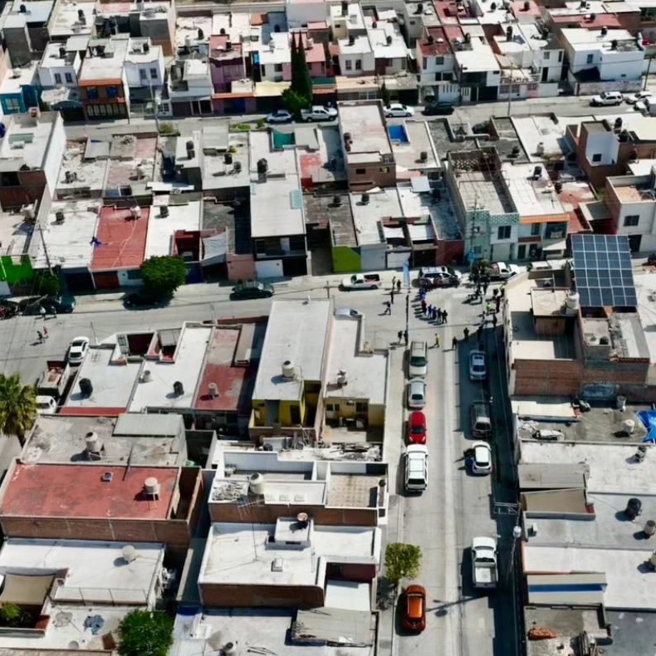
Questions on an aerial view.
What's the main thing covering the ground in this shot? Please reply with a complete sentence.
Most of the picture is covered by buildings.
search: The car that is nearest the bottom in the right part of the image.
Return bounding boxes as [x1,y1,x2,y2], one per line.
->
[402,586,426,634]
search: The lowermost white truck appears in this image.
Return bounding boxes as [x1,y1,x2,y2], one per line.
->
[470,536,497,592]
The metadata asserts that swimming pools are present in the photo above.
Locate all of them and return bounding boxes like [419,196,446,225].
[389,131,404,144]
